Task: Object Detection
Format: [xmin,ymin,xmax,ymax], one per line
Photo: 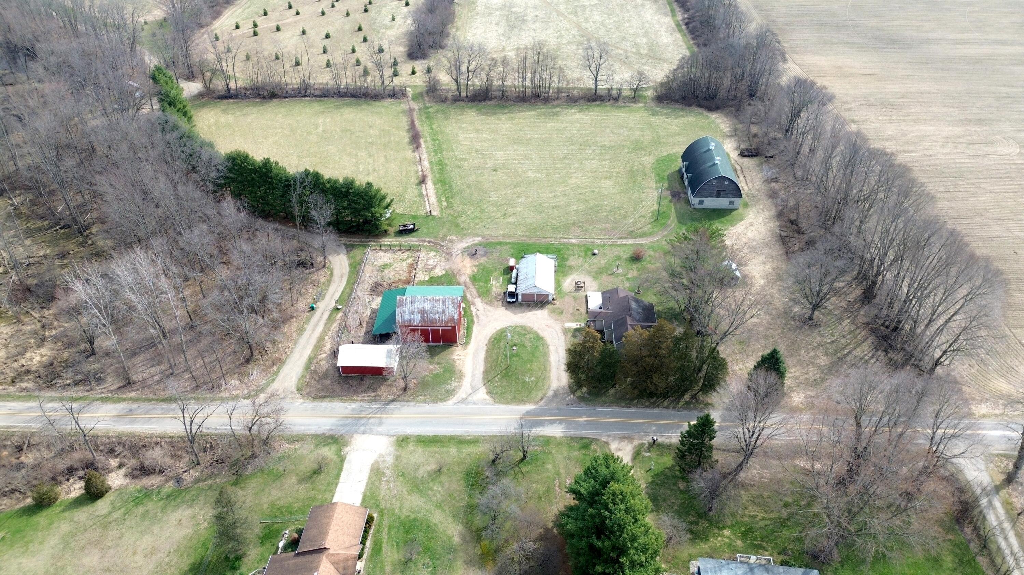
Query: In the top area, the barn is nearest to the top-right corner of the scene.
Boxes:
[679,135,744,209]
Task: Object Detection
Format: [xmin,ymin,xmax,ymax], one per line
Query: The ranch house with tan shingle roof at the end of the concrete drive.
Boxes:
[254,500,369,575]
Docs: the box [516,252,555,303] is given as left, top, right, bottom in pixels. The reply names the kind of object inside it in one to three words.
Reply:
building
